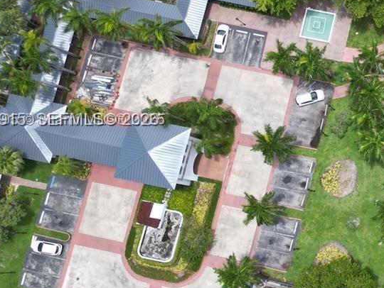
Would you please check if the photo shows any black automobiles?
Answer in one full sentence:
No, there isn't any black automobile down there.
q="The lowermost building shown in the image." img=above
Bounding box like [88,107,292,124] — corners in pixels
[138,200,171,228]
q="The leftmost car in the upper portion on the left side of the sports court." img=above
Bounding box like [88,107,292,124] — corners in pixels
[214,27,231,54]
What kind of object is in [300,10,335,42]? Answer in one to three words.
sports court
